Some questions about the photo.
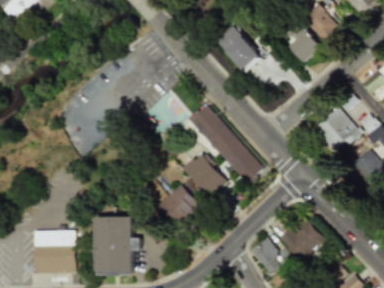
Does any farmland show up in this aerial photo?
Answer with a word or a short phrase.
No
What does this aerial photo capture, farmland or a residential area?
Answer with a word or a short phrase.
residential area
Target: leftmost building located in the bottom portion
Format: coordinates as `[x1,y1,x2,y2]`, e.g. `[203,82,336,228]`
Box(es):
[34,229,76,273]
